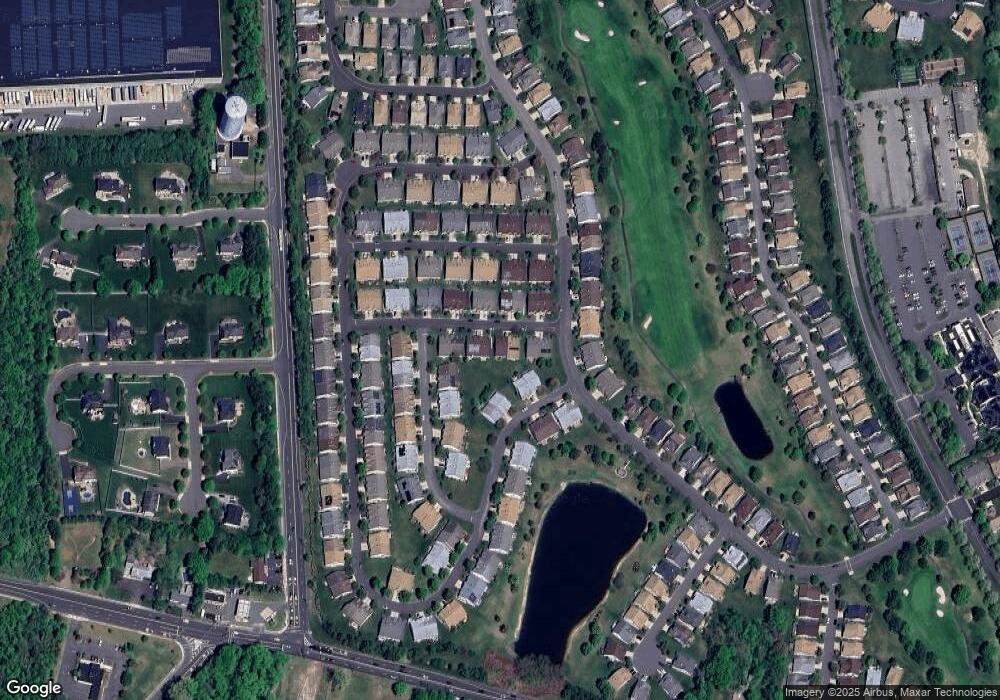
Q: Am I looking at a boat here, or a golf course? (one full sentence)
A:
It is a golf course that can be seen here.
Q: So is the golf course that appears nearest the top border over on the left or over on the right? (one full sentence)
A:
The golf course that appears nearest the top border appears in the right half of the scene.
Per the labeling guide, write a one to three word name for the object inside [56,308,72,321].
swimming pool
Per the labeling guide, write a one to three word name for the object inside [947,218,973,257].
tennis court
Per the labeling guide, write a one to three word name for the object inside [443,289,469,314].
house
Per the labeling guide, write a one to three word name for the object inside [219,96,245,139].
water tower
